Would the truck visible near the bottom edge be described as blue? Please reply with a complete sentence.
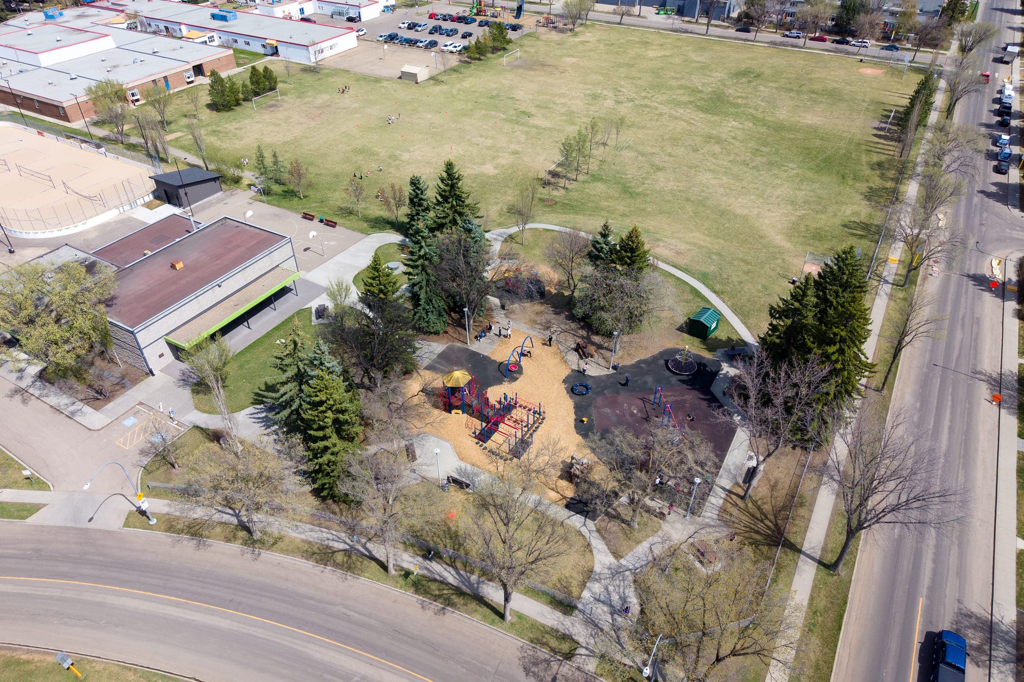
Yes, the truck visible near the bottom edge appears blue.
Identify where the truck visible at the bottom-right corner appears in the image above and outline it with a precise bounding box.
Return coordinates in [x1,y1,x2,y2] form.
[930,631,974,682]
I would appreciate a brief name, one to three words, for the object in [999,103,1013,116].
vehicle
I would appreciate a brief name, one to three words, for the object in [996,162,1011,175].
vehicle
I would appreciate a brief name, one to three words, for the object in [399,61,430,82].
shed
